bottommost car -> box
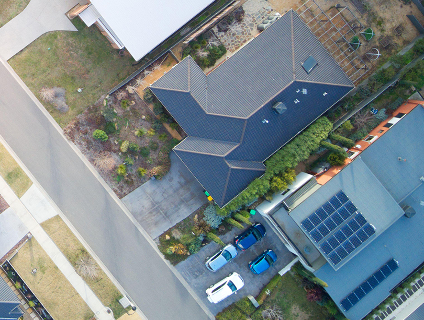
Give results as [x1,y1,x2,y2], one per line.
[205,272,247,307]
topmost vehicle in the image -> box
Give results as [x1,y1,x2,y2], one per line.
[233,222,270,254]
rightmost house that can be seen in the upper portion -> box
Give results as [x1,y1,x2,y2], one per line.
[148,9,356,207]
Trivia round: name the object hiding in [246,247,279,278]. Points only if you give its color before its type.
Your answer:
blue car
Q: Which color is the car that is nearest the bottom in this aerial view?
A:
white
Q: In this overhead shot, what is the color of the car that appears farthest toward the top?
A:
blue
